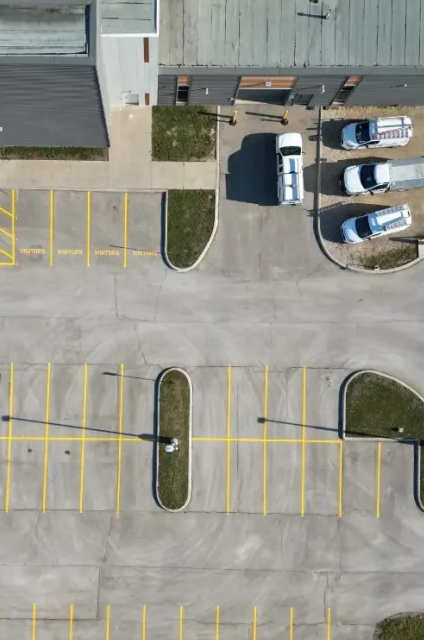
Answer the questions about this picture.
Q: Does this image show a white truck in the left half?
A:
No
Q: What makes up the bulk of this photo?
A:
paved ground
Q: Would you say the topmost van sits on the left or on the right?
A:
right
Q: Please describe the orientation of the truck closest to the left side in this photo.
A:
vertically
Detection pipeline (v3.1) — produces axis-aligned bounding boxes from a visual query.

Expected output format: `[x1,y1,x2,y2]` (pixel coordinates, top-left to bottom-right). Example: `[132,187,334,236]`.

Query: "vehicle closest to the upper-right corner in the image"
[340,116,412,152]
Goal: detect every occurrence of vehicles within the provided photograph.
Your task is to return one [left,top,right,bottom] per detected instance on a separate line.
[275,131,307,206]
[338,161,424,196]
[340,116,412,152]
[339,203,411,245]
